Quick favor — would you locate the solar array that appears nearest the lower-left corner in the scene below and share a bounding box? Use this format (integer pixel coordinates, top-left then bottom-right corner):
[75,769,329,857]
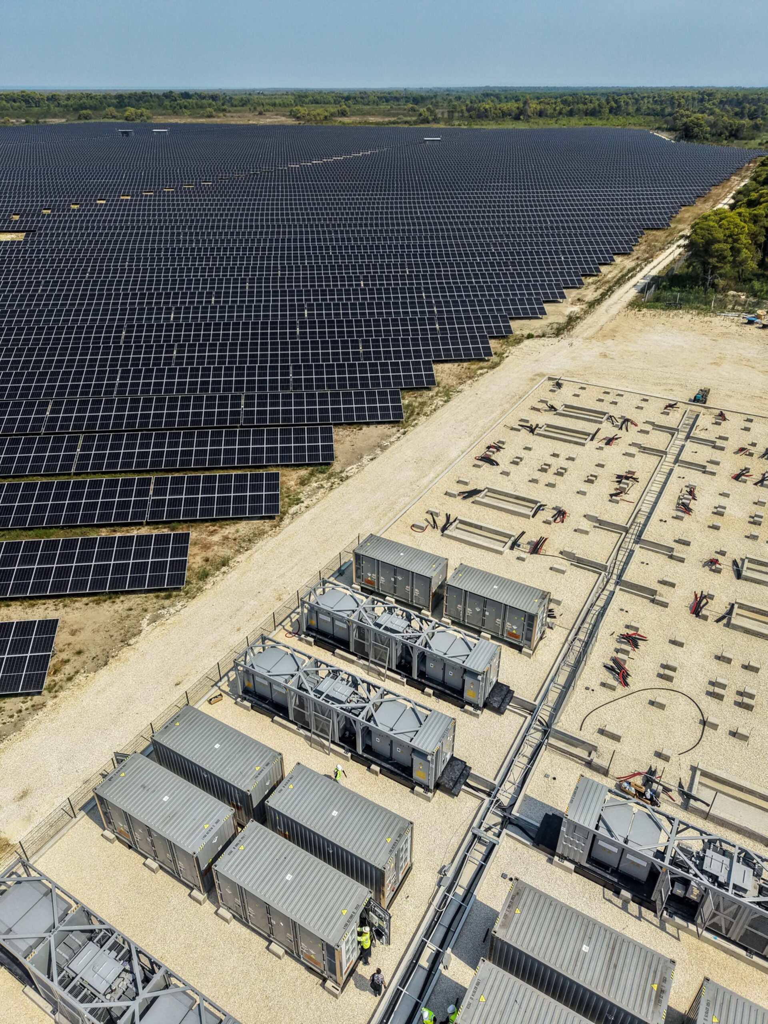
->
[0,619,59,693]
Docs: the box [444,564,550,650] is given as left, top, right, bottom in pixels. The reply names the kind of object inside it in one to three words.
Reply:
shipping container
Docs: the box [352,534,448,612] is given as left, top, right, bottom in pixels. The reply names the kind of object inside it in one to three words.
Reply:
shipping container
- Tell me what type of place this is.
solar farm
